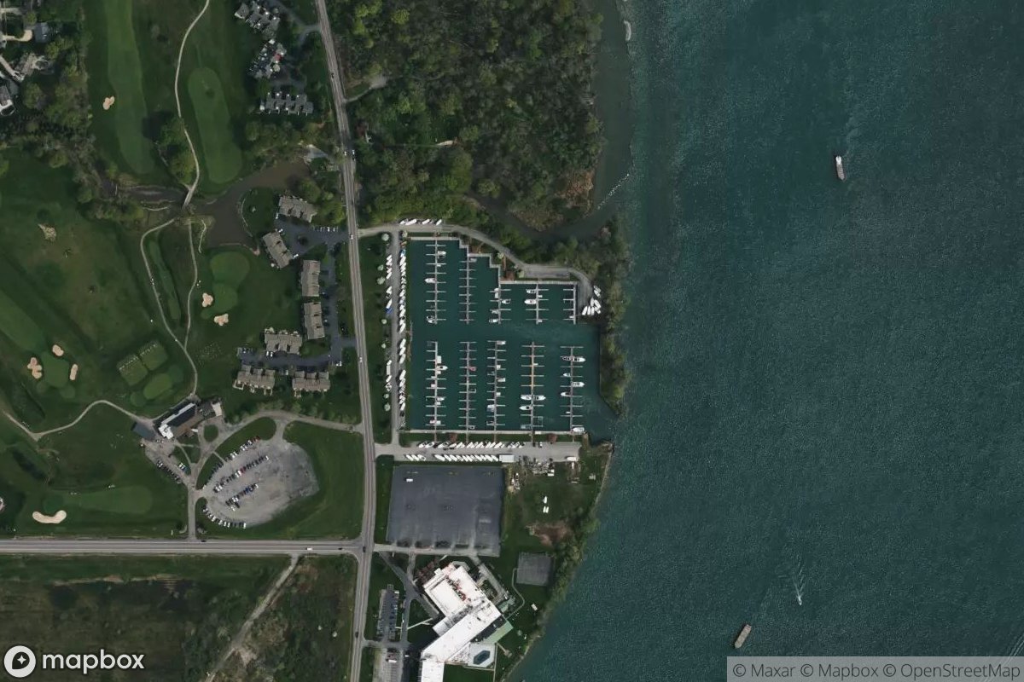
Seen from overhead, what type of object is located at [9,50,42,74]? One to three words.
house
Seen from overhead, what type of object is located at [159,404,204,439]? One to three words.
building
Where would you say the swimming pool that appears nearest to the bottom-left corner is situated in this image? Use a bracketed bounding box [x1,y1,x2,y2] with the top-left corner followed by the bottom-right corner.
[470,643,495,668]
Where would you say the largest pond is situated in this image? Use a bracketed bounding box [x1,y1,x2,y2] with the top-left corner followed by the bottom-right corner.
[94,158,309,249]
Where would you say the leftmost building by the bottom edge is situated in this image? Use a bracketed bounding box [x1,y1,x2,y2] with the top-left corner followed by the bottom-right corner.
[419,562,515,682]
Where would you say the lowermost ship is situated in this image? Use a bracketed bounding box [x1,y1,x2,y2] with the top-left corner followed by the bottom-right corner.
[736,624,751,647]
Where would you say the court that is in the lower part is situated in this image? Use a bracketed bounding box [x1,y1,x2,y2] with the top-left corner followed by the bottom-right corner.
[516,553,551,587]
